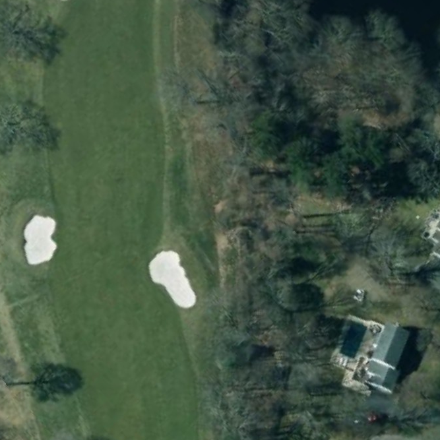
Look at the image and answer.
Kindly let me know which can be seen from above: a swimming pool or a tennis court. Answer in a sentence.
There is a swimming pool in the scene.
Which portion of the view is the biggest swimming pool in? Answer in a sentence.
The biggest swimming pool appears toward the bottom right of the photo.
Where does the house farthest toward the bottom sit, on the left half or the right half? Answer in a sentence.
You can find the house farthest toward the bottom on the right side of the picture.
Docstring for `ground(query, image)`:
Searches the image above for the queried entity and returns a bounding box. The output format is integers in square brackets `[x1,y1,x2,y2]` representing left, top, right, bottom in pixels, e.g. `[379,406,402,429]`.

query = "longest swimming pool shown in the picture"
[339,321,369,359]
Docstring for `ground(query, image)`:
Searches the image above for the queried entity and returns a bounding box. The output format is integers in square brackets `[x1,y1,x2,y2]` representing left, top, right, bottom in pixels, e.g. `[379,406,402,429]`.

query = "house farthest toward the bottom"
[365,320,412,390]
